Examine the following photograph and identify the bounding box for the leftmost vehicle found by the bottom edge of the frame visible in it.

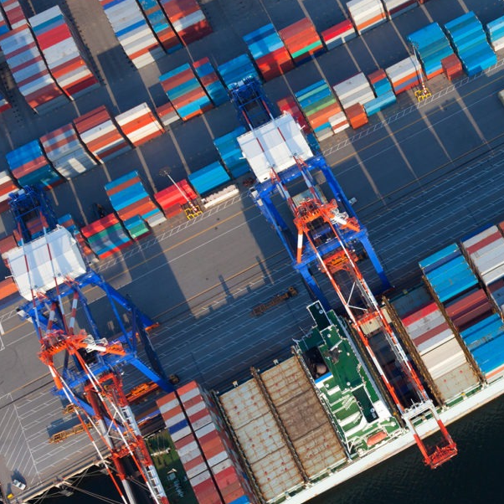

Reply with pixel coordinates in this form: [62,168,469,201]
[9,477,26,489]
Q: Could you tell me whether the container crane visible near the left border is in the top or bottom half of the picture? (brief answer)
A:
bottom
